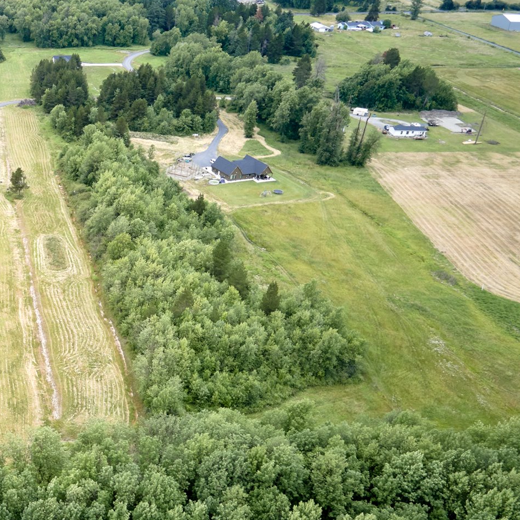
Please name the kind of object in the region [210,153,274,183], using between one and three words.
house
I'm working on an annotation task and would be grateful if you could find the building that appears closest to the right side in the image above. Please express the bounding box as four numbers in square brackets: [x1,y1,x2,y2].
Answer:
[495,13,520,31]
